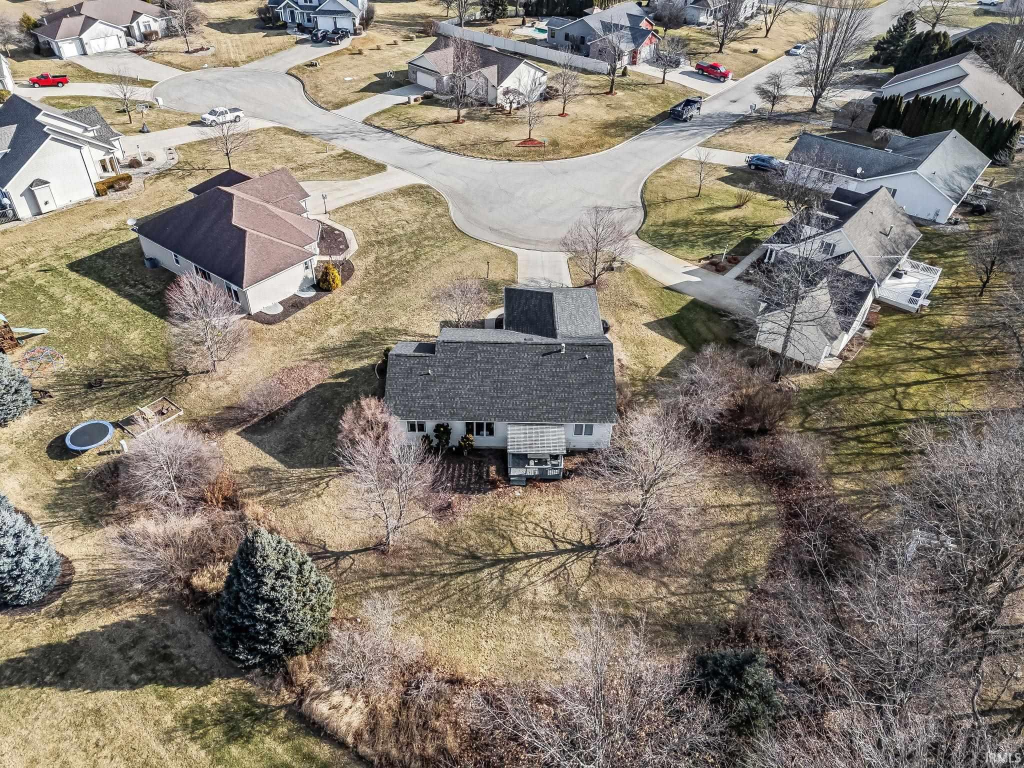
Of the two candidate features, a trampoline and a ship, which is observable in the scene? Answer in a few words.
trampoline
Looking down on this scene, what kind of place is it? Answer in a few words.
residential area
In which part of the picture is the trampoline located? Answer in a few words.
left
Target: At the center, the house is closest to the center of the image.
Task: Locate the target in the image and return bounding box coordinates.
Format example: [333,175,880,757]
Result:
[383,286,617,448]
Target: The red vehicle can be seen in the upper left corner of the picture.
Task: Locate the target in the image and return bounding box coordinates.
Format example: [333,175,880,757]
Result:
[25,72,70,88]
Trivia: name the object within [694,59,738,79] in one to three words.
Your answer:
vehicle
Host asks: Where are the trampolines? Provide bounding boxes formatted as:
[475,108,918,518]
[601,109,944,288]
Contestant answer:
[64,419,121,463]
